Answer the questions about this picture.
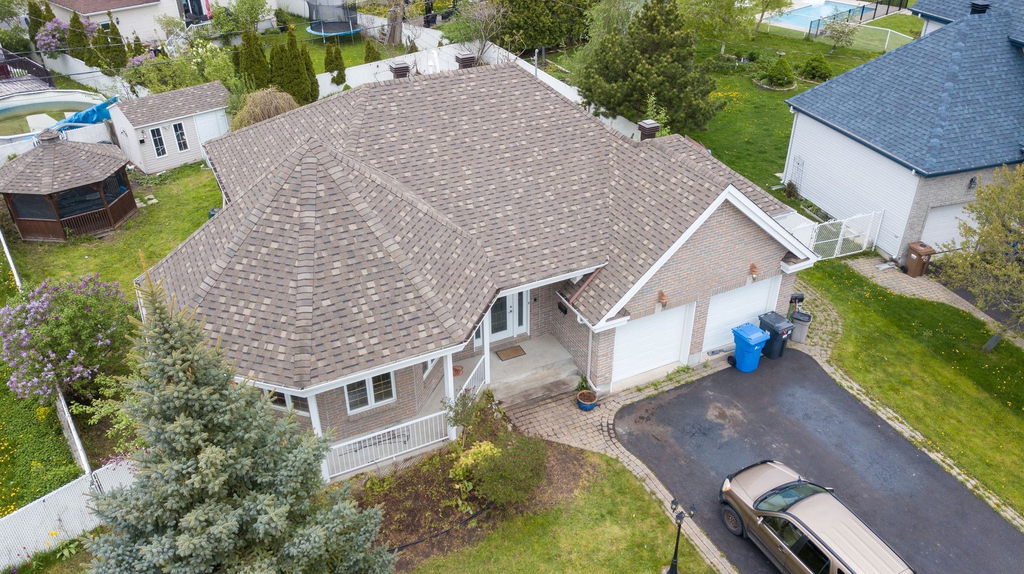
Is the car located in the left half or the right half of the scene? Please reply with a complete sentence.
The car is on the right side of the image.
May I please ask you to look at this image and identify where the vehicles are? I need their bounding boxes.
[714,465,923,574]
